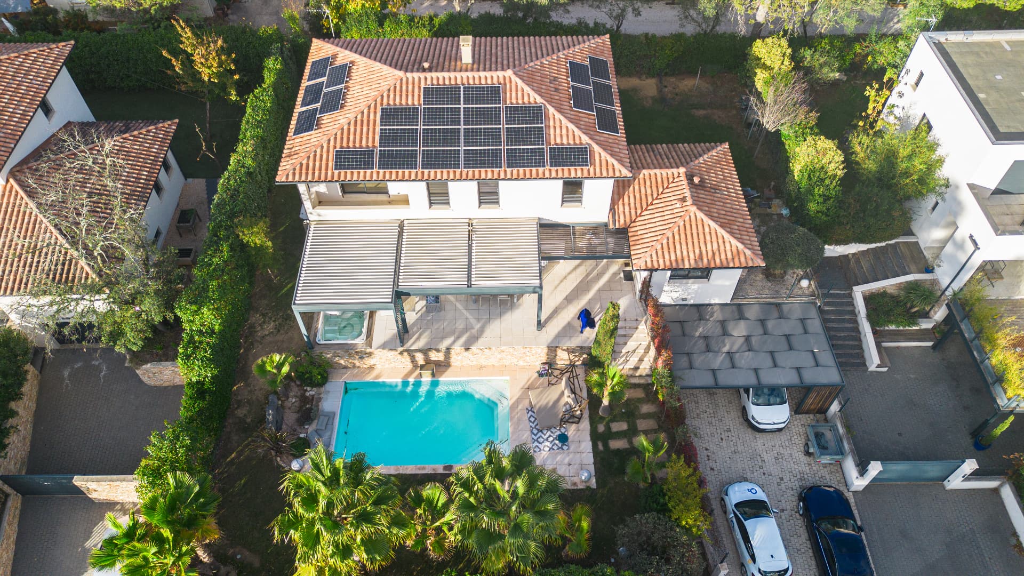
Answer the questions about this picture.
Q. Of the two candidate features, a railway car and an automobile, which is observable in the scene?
automobile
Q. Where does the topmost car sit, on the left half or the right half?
right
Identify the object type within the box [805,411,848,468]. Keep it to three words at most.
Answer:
trailer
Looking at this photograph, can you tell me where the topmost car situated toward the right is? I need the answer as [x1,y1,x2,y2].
[740,388,802,434]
